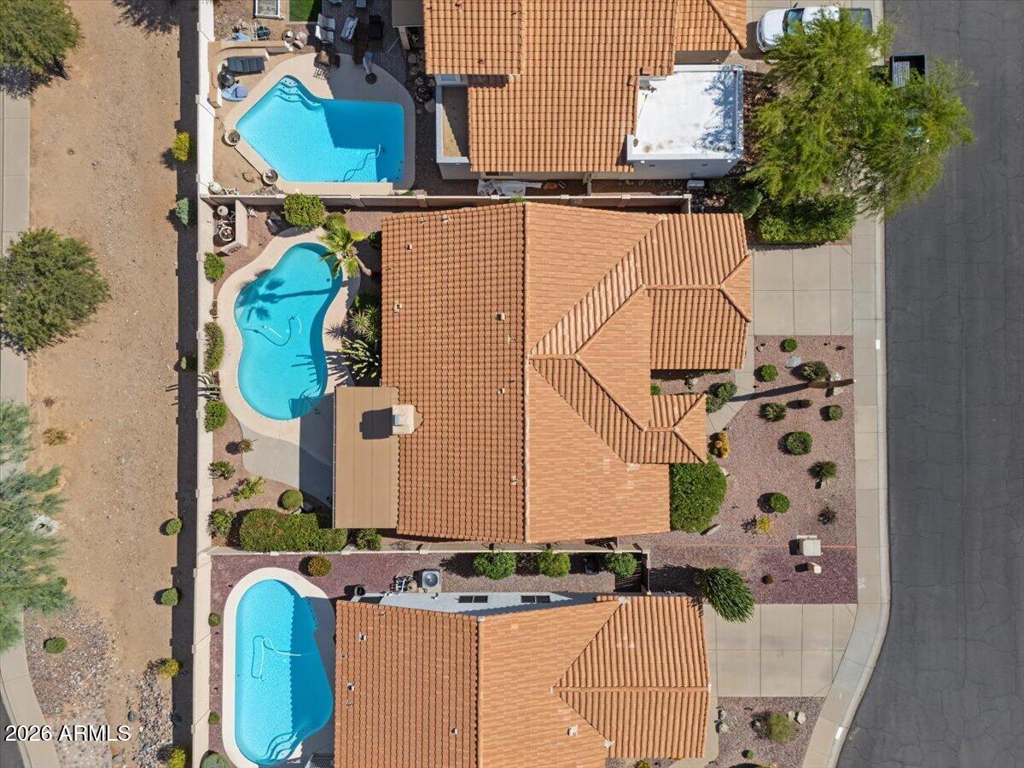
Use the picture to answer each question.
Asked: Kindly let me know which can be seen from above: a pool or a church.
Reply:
pool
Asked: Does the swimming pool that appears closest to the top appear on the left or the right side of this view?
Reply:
left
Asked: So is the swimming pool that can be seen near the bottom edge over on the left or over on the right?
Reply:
left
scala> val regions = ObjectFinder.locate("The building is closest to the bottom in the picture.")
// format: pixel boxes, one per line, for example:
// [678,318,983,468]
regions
[334,592,711,768]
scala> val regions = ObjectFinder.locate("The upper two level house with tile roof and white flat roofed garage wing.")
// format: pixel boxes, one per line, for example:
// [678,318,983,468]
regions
[392,0,750,179]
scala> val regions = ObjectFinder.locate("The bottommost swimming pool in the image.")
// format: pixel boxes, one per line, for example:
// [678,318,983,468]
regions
[234,579,333,765]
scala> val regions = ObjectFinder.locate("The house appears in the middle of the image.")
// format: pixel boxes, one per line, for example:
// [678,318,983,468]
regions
[332,202,755,548]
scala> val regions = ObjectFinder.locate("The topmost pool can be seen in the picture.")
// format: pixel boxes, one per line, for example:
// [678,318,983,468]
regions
[236,73,405,183]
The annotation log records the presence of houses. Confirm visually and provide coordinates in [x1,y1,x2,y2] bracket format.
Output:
[392,0,750,179]
[332,202,755,548]
[334,592,711,768]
